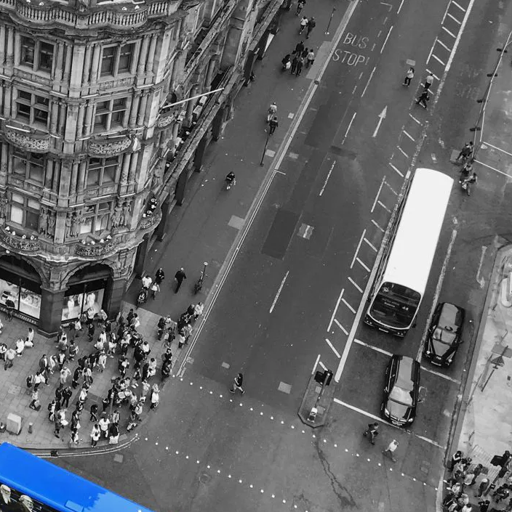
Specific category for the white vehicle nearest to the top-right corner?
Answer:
bus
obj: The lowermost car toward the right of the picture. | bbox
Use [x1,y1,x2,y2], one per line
[382,346,430,421]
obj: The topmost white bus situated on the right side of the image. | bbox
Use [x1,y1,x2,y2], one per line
[363,168,458,337]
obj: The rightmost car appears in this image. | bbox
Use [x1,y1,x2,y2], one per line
[422,292,468,359]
